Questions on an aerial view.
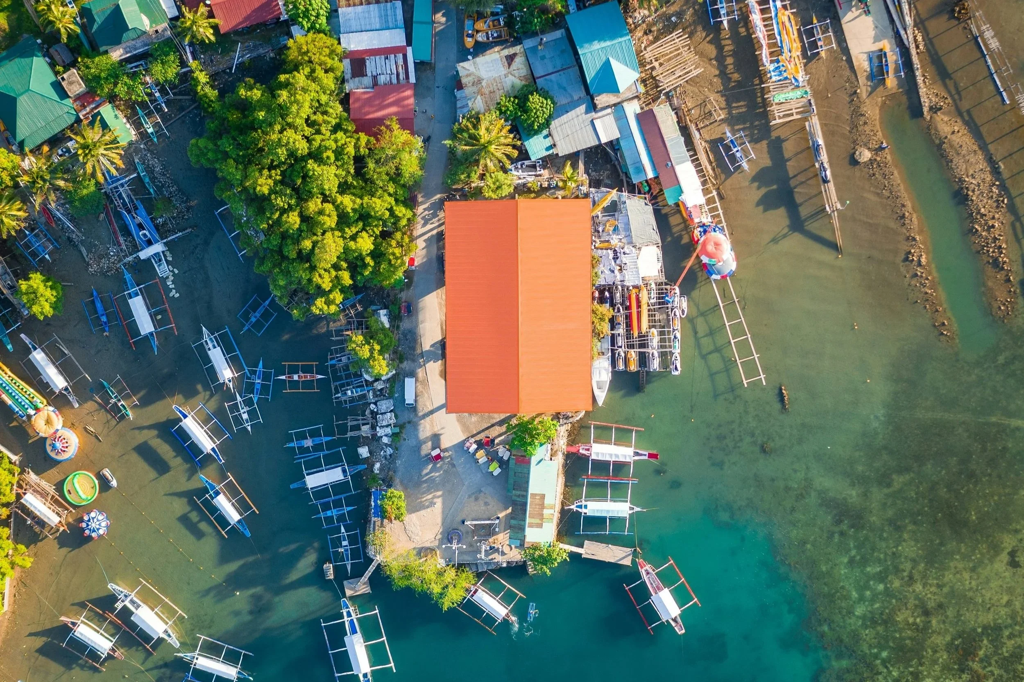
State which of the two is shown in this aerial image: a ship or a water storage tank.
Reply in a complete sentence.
The image shows a ship.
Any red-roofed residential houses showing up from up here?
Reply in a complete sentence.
Yes, the frame does contain a red-roofed residential house.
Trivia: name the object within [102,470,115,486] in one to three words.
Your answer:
boat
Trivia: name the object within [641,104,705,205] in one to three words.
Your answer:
shed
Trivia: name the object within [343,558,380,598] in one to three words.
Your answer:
pier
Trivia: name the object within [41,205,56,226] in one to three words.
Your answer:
boat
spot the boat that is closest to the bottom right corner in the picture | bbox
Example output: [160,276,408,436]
[623,557,701,635]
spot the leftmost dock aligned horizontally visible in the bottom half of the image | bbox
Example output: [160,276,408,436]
[559,539,634,567]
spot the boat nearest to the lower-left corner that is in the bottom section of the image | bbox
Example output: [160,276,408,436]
[60,602,128,671]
